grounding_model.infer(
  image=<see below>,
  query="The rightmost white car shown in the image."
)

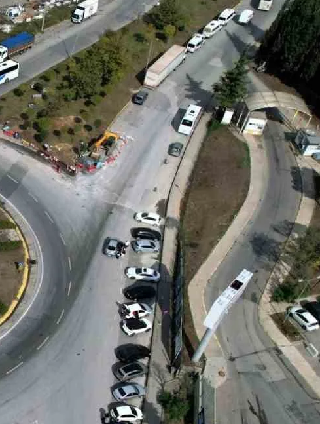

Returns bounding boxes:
[288,308,320,332]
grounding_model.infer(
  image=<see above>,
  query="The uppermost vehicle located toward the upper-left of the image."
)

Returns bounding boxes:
[73,0,100,24]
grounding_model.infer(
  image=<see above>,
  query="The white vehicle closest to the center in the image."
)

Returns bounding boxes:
[135,212,163,227]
